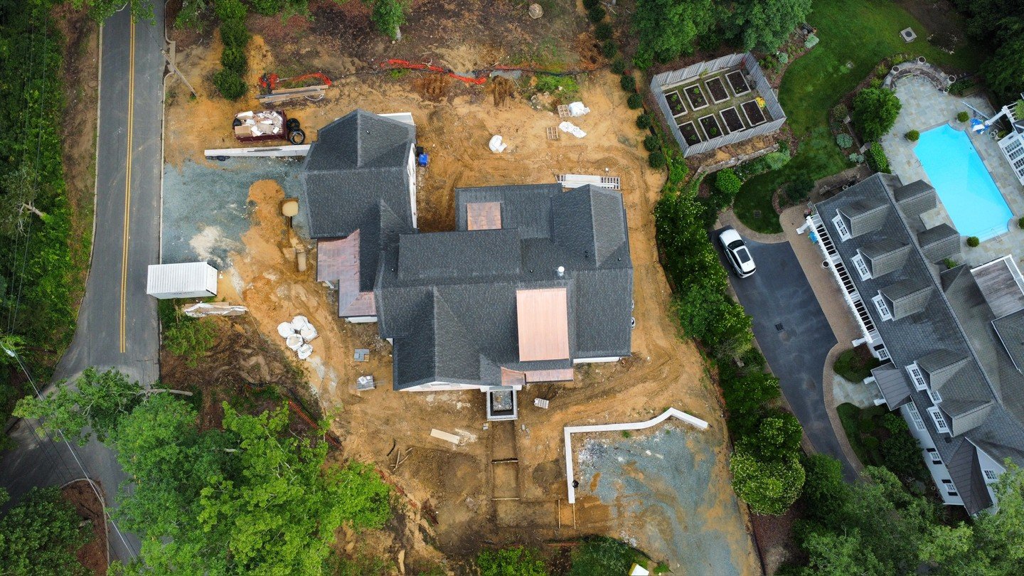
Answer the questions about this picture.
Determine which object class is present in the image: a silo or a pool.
pool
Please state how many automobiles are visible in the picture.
1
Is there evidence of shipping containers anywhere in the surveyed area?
Yes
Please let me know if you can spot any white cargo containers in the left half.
Yes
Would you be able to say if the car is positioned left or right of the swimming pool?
to the left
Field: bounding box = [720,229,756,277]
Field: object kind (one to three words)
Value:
car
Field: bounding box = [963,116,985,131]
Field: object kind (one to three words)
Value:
umbrella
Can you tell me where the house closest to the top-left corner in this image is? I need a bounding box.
[298,106,636,392]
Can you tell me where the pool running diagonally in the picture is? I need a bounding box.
[910,121,1017,247]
